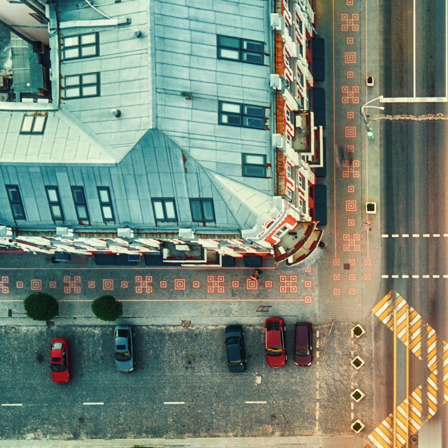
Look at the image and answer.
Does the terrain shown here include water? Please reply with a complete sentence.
No, there is no water in the image.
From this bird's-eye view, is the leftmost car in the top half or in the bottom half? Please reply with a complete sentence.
The leftmost car sits in the bottom half of the picture.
